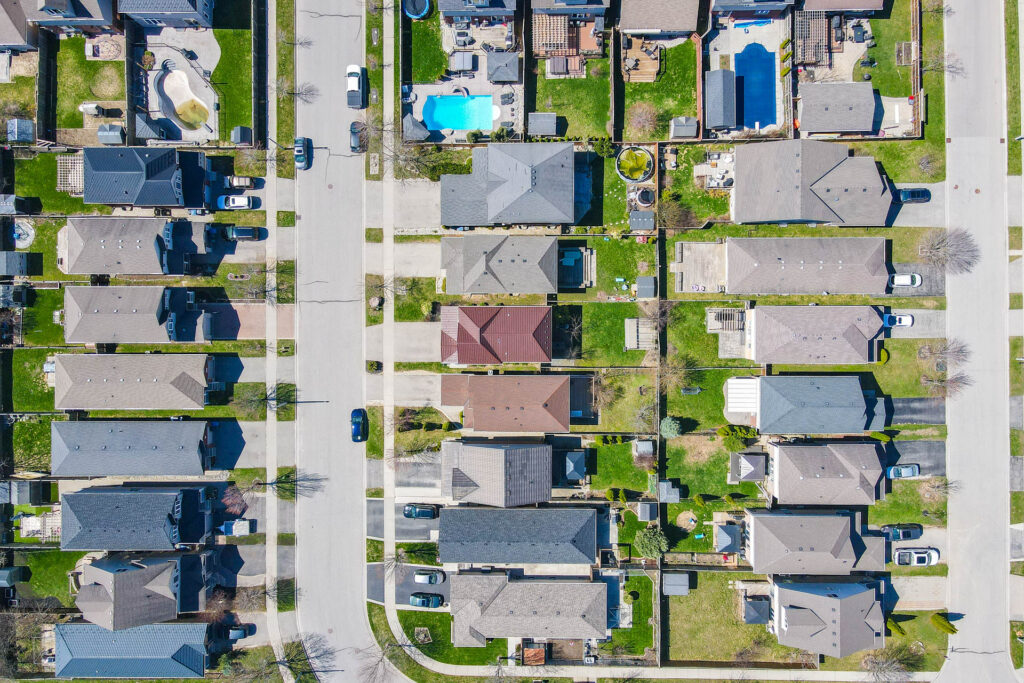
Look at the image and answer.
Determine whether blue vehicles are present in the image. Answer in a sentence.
Yes, the photo shows a blue vehicle.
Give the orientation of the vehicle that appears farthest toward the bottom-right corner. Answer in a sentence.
I'd say the vehicle that appears farthest toward the bottom-right corner is aligned from left to right in the picture.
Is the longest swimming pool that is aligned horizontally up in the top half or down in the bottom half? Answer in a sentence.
You can find the longest swimming pool that is aligned horizontally in the top half.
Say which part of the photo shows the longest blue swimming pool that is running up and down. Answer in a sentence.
You can find the longest blue swimming pool that is running up and down in the top right area of the picture.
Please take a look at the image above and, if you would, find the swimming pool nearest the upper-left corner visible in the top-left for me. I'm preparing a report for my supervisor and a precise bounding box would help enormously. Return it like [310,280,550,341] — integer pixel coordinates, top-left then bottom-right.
[152,57,210,131]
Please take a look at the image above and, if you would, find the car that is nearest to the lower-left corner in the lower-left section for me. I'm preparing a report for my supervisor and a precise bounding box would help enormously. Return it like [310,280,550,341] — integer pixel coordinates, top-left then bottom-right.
[227,624,252,642]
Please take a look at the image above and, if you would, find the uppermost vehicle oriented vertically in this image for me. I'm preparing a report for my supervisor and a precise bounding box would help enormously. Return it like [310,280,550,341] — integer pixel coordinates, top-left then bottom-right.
[346,65,364,109]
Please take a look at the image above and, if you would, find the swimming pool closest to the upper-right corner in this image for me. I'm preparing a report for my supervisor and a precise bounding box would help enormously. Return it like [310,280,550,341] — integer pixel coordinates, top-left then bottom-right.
[735,41,776,131]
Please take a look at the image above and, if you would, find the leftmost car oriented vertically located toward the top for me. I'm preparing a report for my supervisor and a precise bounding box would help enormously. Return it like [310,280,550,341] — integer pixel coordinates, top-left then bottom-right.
[294,137,309,170]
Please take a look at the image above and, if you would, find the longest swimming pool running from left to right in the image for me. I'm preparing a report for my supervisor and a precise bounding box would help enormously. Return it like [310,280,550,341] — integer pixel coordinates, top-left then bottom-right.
[421,94,504,131]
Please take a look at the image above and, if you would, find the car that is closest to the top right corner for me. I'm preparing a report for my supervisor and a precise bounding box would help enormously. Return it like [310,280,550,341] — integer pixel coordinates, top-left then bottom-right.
[896,187,930,204]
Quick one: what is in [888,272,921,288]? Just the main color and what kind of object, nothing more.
white vehicle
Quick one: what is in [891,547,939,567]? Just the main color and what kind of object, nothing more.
white vehicle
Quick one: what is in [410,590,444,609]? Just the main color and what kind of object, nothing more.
blue car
